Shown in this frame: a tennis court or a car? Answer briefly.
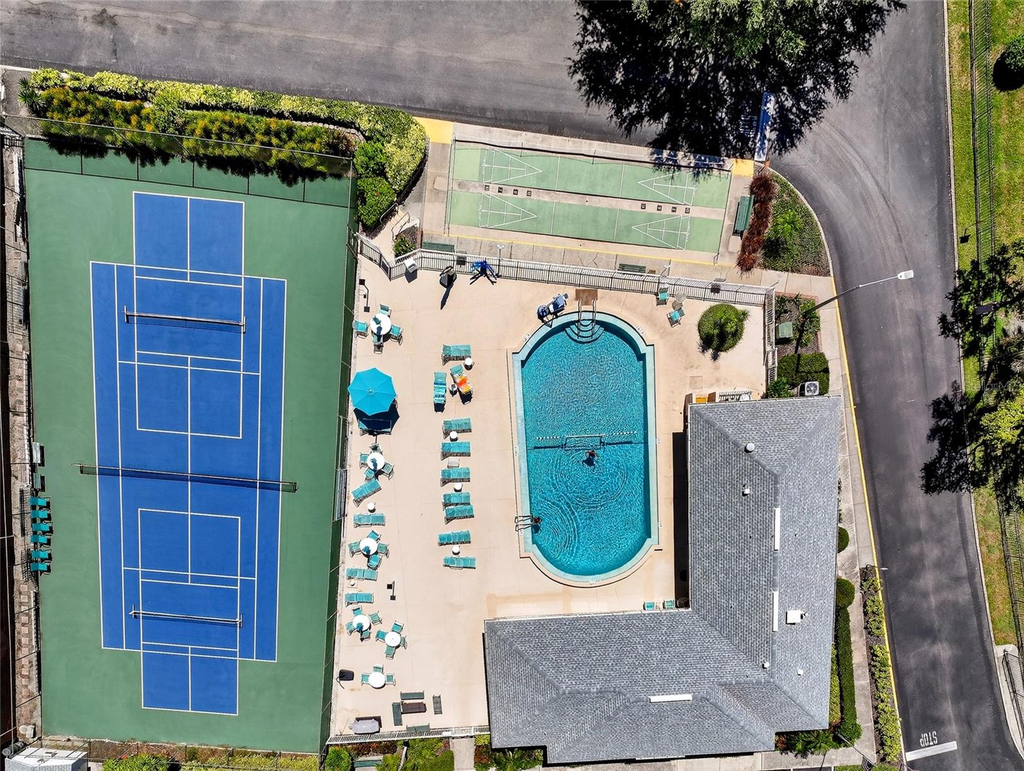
tennis court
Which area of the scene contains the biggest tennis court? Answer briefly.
left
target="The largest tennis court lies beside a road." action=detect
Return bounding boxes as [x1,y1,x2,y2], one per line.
[24,138,347,755]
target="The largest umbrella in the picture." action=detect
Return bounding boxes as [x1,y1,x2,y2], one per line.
[350,365,399,416]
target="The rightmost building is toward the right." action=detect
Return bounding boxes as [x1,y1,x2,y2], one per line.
[482,386,842,765]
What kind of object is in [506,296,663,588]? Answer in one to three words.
swimming pool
